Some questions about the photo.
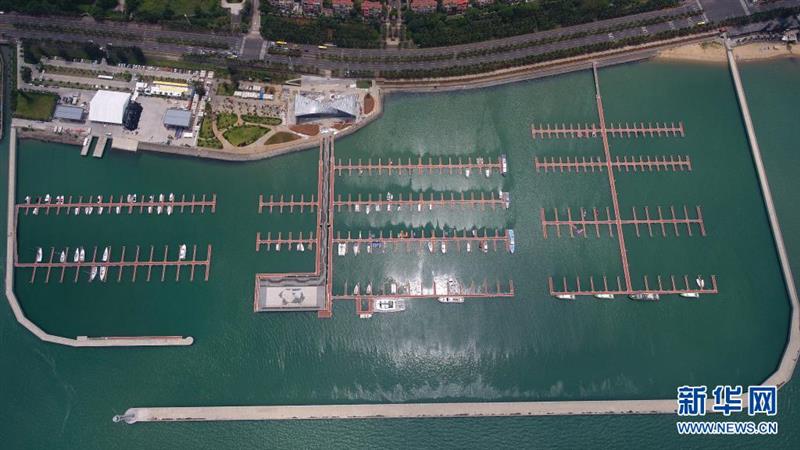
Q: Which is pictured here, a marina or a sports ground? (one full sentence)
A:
This image shows a marina.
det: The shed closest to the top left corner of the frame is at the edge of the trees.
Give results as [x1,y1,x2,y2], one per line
[54,105,86,120]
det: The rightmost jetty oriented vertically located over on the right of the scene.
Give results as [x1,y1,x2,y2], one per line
[593,60,634,291]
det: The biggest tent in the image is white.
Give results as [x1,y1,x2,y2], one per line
[88,90,132,123]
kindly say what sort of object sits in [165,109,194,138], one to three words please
shed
